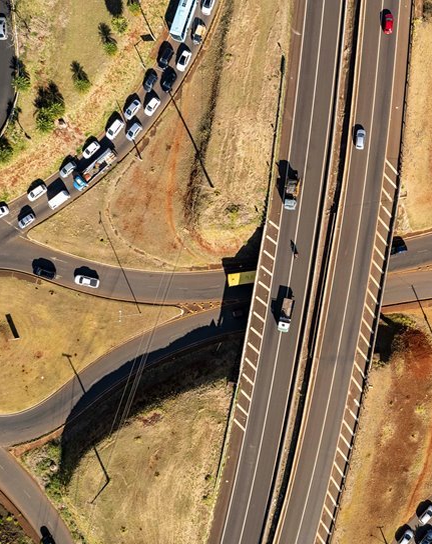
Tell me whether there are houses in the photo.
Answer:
No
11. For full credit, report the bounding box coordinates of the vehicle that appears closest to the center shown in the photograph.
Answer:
[224,272,258,290]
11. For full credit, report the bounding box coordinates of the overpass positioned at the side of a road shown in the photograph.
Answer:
[235,198,397,396]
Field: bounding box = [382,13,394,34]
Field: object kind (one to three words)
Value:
vehicle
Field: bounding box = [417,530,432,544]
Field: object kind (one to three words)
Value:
vehicle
